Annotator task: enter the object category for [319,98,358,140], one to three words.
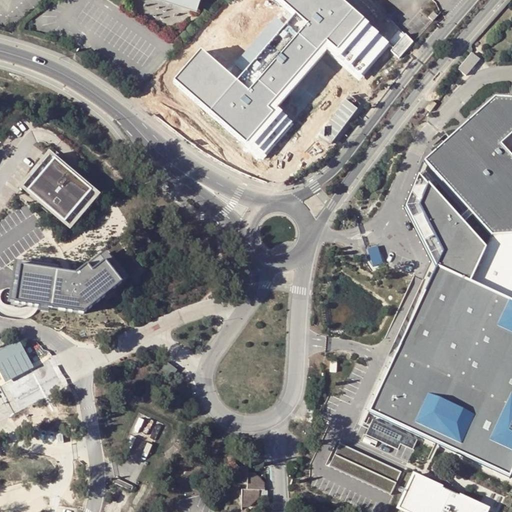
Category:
shed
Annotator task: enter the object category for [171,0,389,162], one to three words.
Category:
building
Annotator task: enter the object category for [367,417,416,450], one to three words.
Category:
building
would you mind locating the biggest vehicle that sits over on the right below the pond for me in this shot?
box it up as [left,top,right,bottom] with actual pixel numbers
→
[362,436,380,448]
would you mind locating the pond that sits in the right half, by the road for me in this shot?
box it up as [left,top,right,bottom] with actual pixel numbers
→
[326,271,384,334]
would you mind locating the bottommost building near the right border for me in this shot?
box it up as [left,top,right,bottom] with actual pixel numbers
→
[394,472,490,512]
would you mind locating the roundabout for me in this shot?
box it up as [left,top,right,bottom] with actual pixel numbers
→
[240,194,317,272]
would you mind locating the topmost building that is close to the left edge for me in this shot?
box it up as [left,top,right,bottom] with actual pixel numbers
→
[22,150,100,229]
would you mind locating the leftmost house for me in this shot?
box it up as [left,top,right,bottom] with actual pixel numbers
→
[0,342,34,382]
